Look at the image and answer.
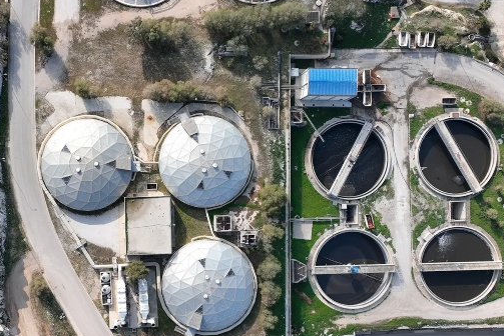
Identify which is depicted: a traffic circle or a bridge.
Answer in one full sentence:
It is a bridge that can be seen here.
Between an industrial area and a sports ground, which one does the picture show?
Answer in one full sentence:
This image shows an industrial area.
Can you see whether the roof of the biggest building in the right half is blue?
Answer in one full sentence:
Yes, the roof of the biggest building in the right half is blue.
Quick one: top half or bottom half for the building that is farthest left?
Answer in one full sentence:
The bottom half of the photo is where the building that is farthest left is.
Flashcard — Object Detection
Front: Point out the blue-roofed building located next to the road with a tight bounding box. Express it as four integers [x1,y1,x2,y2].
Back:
[292,67,360,110]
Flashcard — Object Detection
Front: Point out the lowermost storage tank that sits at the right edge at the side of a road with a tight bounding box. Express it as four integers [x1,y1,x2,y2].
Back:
[413,223,503,309]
